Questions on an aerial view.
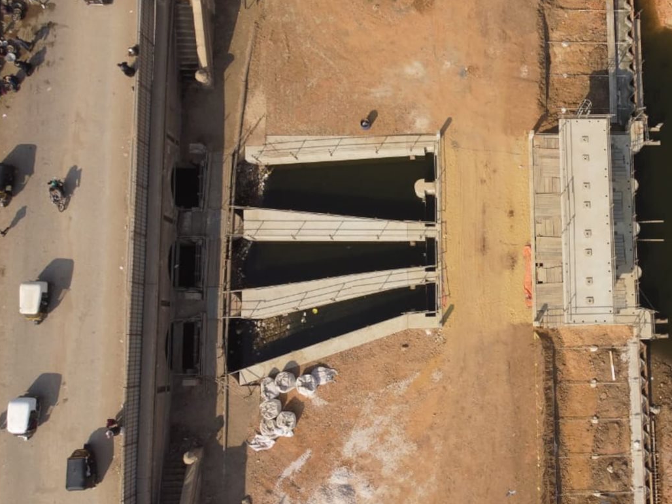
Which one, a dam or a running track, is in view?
dam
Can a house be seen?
No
